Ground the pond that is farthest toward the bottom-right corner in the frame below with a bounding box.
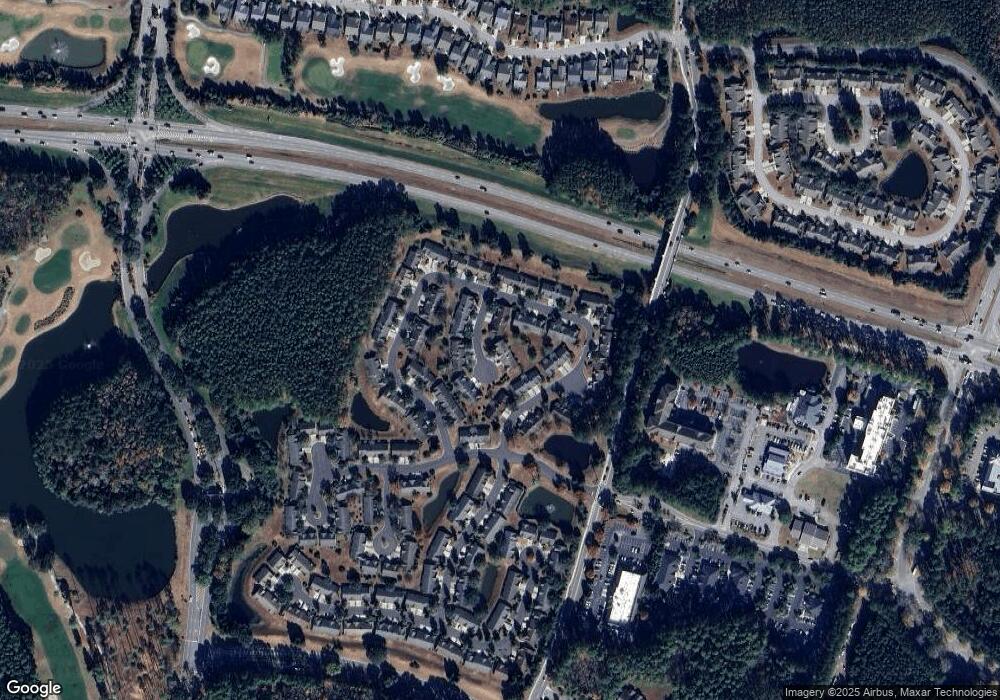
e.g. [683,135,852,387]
[738,344,826,396]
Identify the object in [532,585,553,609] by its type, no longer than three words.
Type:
house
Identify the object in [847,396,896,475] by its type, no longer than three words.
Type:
building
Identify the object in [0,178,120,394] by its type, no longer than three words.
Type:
golf course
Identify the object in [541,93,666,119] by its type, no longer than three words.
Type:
pond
